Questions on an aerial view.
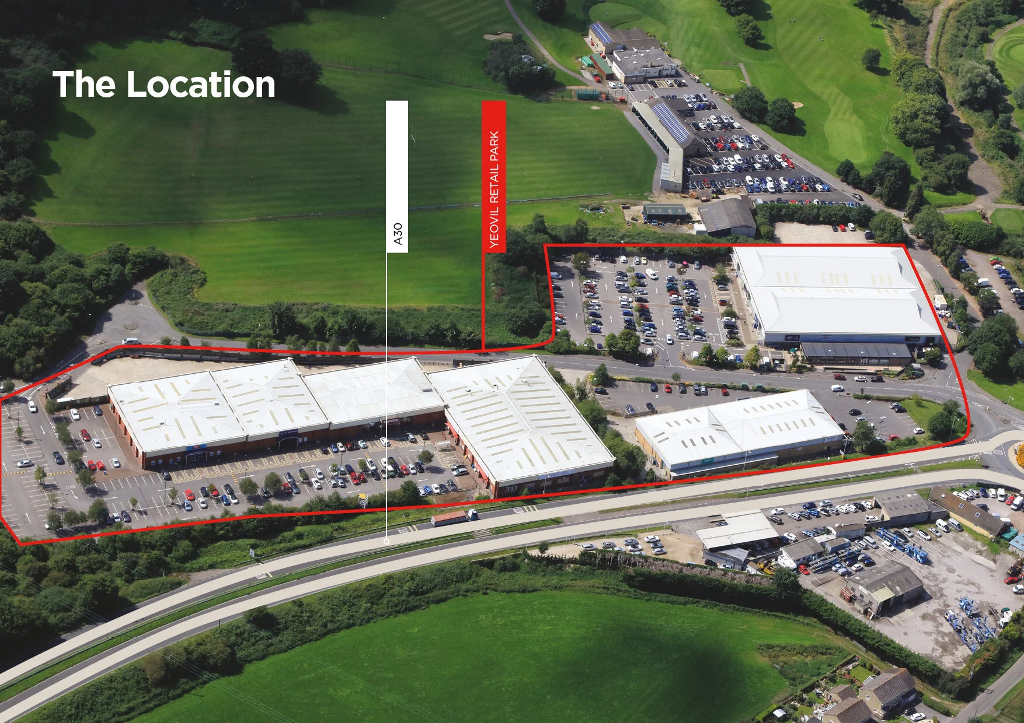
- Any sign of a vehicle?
Yes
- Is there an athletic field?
Yes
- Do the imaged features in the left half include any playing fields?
Yes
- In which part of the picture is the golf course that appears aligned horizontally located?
top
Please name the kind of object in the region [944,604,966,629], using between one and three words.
truck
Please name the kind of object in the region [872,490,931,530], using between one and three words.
shed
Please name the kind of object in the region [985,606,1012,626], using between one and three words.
vehicle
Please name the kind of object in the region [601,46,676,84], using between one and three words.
building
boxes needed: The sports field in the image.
[30,32,655,223]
